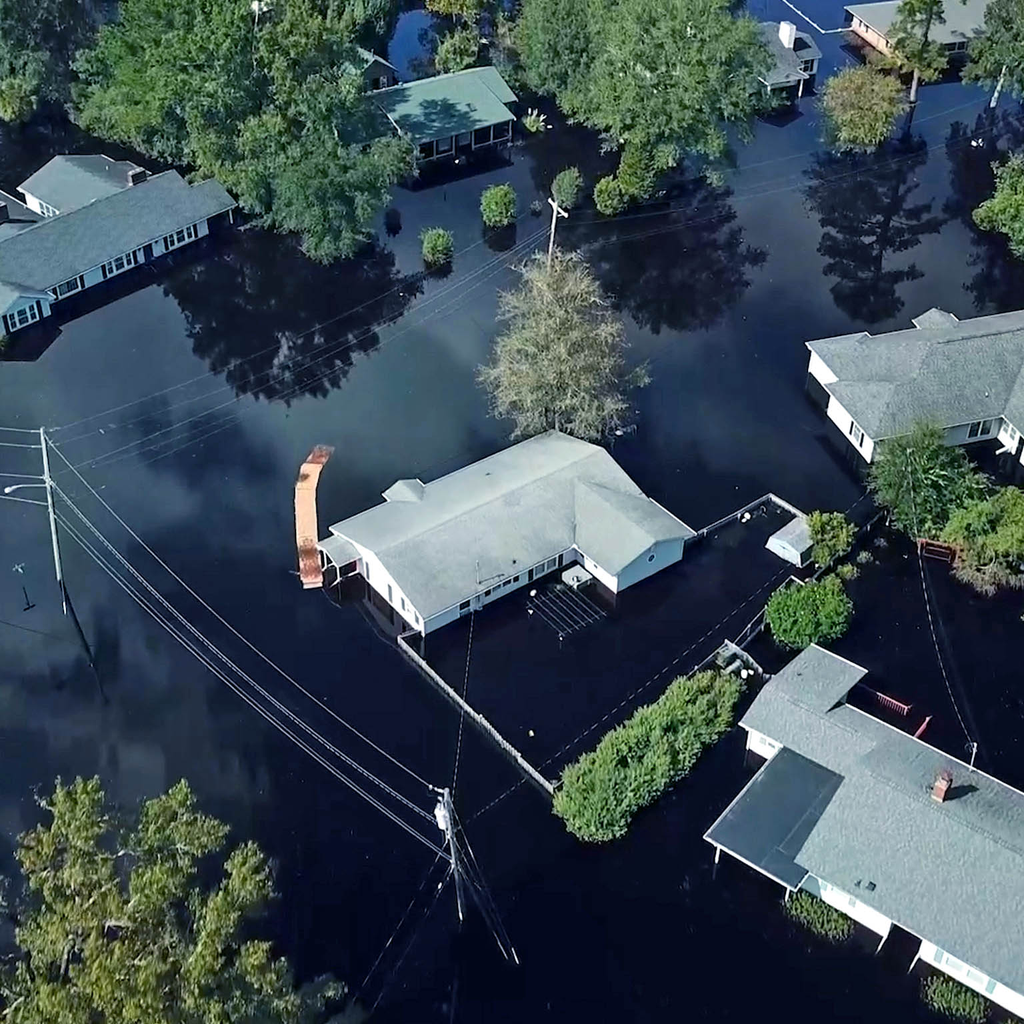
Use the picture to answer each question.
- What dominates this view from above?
water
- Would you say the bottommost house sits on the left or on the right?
right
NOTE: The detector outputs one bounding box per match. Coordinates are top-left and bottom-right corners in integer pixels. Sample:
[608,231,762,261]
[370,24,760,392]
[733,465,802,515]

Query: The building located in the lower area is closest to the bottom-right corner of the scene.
[703,643,1024,1020]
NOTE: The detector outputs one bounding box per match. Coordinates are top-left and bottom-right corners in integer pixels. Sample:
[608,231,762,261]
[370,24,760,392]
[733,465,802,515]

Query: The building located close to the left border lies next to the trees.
[0,155,239,337]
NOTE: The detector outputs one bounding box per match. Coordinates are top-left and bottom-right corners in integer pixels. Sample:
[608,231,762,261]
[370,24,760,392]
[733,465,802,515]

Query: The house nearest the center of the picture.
[313,428,697,635]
